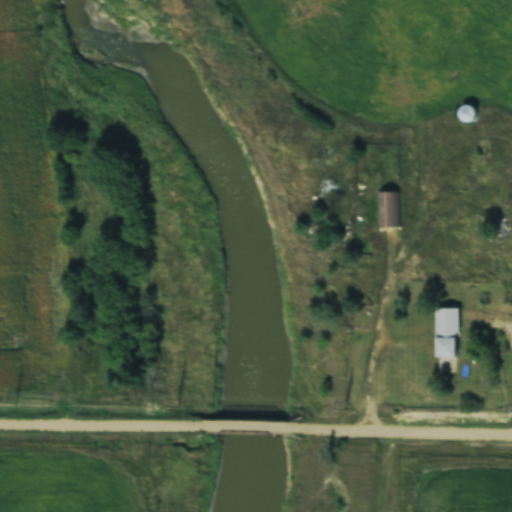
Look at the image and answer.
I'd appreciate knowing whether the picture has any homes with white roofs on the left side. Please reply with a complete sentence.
No, there's no home with a white roof to be seen on the left side.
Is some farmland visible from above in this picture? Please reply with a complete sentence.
Yes, there's farmland in this view.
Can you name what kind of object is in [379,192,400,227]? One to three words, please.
barn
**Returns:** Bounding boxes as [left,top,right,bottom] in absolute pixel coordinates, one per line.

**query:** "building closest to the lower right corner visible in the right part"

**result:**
[434,308,460,358]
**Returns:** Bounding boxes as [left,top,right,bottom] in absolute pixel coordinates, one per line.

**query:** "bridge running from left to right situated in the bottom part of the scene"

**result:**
[203,419,290,436]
